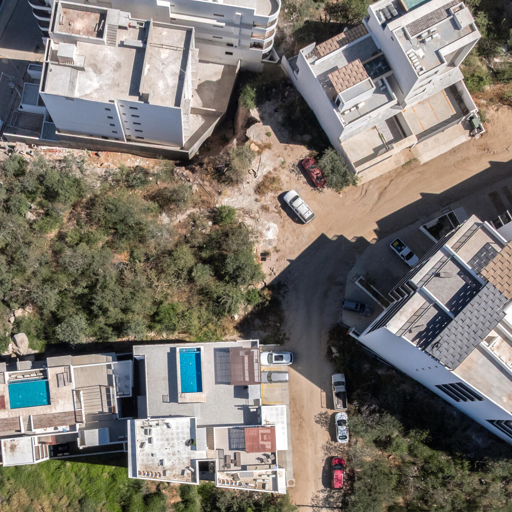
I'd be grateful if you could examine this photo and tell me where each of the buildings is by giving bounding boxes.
[0,353,138,466]
[3,0,238,162]
[280,0,480,177]
[361,215,512,442]
[128,339,287,494]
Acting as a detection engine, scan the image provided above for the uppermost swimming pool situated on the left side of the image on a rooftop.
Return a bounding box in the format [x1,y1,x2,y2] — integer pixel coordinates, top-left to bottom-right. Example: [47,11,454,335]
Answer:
[179,347,202,393]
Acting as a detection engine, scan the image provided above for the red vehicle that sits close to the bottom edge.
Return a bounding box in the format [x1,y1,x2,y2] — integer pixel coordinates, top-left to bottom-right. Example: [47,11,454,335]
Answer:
[330,457,346,489]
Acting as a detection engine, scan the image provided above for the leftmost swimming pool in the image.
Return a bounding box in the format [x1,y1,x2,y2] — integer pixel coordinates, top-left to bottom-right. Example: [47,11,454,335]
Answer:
[6,376,54,411]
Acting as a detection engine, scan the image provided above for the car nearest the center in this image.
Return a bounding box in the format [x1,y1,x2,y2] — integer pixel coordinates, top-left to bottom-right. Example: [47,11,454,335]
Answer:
[285,189,316,224]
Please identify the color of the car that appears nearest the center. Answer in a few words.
white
